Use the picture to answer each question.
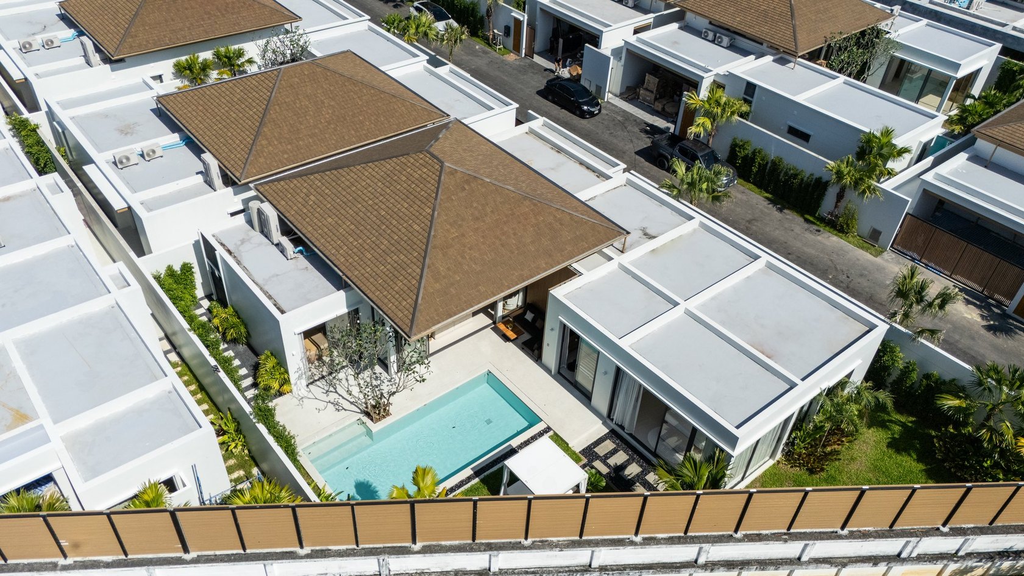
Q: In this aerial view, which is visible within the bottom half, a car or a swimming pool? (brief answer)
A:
swimming pool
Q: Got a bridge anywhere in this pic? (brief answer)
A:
No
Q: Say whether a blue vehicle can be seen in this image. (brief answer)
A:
No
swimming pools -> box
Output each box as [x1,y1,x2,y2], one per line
[302,371,542,504]
[930,135,958,158]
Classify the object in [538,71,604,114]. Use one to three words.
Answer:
car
